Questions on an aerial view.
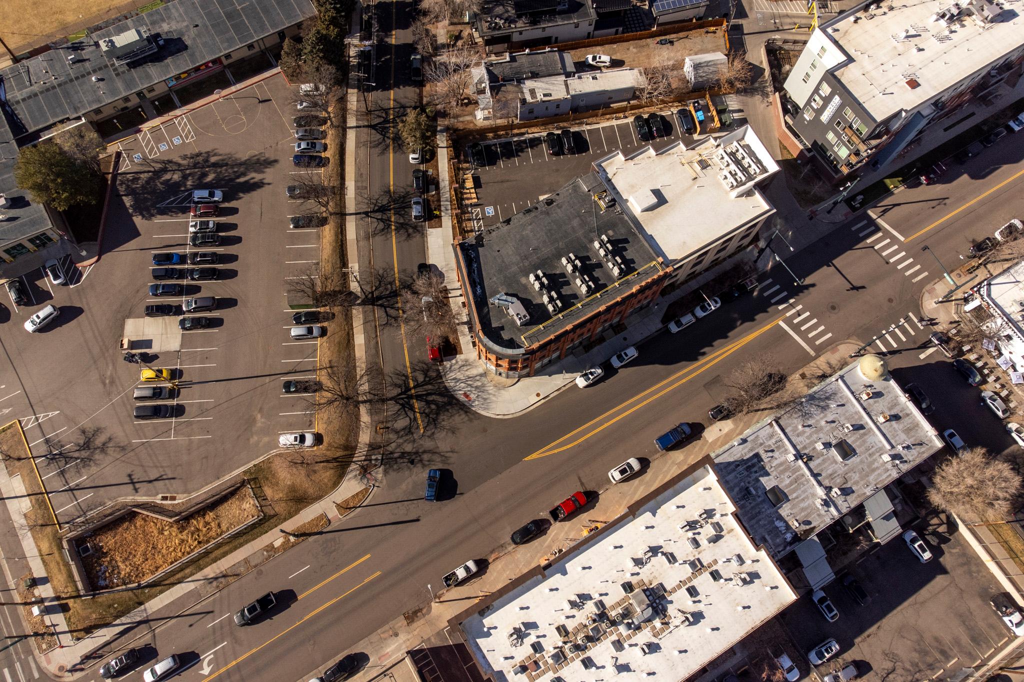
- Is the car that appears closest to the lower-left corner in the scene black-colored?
Yes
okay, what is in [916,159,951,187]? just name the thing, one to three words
truck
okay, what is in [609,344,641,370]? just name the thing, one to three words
car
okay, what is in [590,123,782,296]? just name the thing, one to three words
building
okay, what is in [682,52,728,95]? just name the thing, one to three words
shed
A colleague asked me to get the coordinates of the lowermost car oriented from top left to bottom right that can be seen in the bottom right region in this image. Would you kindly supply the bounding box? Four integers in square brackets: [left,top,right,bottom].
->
[771,648,804,682]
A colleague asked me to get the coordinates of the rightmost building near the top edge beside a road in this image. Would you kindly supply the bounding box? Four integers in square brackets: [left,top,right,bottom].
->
[785,0,1024,177]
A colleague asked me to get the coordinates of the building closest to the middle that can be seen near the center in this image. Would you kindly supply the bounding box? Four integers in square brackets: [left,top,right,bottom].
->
[448,171,675,385]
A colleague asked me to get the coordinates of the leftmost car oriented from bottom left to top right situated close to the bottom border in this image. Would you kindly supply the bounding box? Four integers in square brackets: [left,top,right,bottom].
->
[99,647,140,682]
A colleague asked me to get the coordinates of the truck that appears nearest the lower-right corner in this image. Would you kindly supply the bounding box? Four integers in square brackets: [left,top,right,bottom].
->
[987,590,1024,634]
